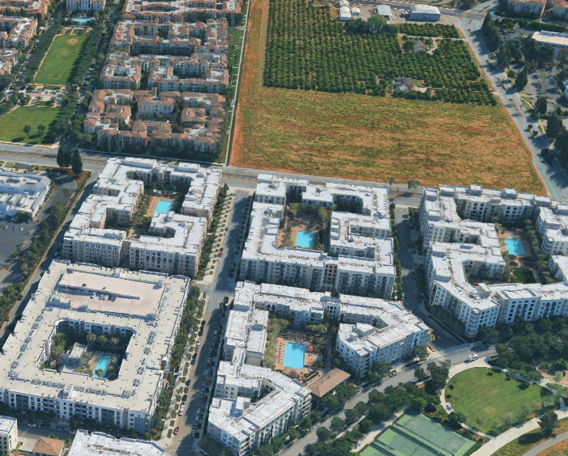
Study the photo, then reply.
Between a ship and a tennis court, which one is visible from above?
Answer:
tennis court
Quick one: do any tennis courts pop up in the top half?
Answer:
No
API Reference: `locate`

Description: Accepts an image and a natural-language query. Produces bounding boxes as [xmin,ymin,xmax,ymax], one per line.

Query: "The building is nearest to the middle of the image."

[238,173,396,297]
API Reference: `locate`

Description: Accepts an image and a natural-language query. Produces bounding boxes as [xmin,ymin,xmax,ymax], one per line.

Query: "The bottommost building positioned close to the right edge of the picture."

[417,183,568,338]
